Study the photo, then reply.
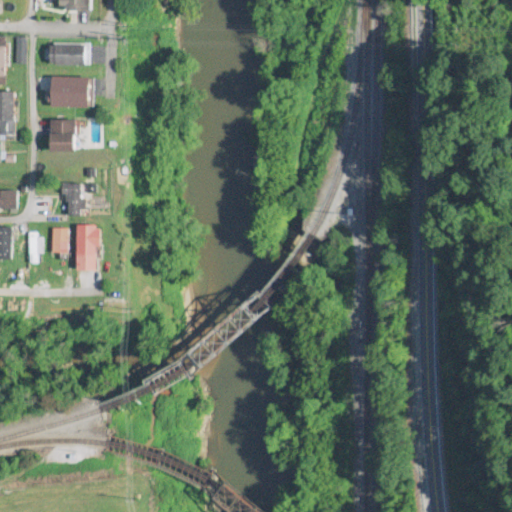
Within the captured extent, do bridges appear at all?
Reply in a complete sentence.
Yes, the image includes a bridge.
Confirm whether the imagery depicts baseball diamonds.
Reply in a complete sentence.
No, the photo shows no baseball diamond.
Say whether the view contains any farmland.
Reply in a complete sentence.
No, the picture contains no farmland.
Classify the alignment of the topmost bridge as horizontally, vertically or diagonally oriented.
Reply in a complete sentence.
The topmost bridge is oriented diagonally.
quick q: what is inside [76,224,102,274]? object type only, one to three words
house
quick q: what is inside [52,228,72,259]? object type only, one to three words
building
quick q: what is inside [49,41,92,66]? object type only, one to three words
house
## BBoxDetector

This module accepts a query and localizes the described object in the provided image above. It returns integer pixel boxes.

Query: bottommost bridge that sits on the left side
[102,434,268,512]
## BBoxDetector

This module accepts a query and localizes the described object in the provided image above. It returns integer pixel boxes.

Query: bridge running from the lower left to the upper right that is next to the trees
[94,230,321,420]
